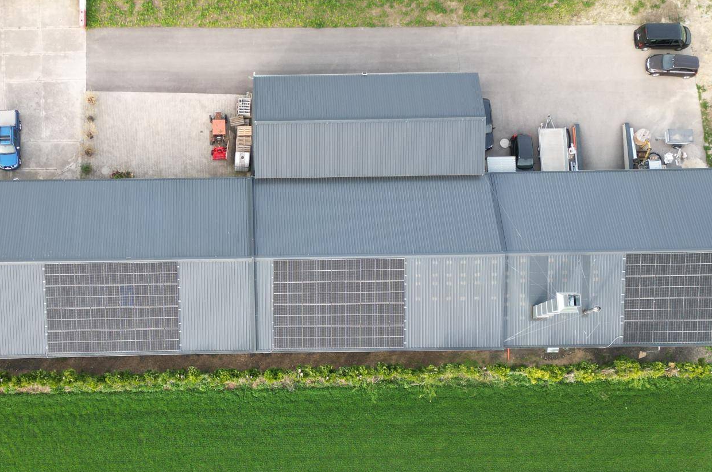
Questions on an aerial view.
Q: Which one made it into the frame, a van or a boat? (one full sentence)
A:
It is a van that can be seen here.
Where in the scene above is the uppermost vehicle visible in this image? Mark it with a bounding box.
[632,23,690,53]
